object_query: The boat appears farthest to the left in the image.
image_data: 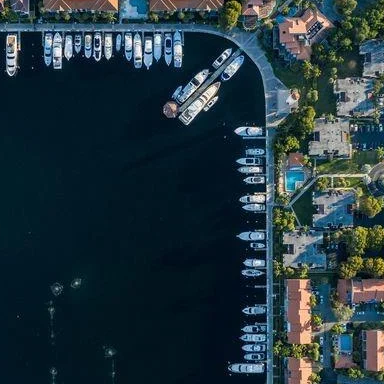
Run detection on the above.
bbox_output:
[6,33,19,76]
